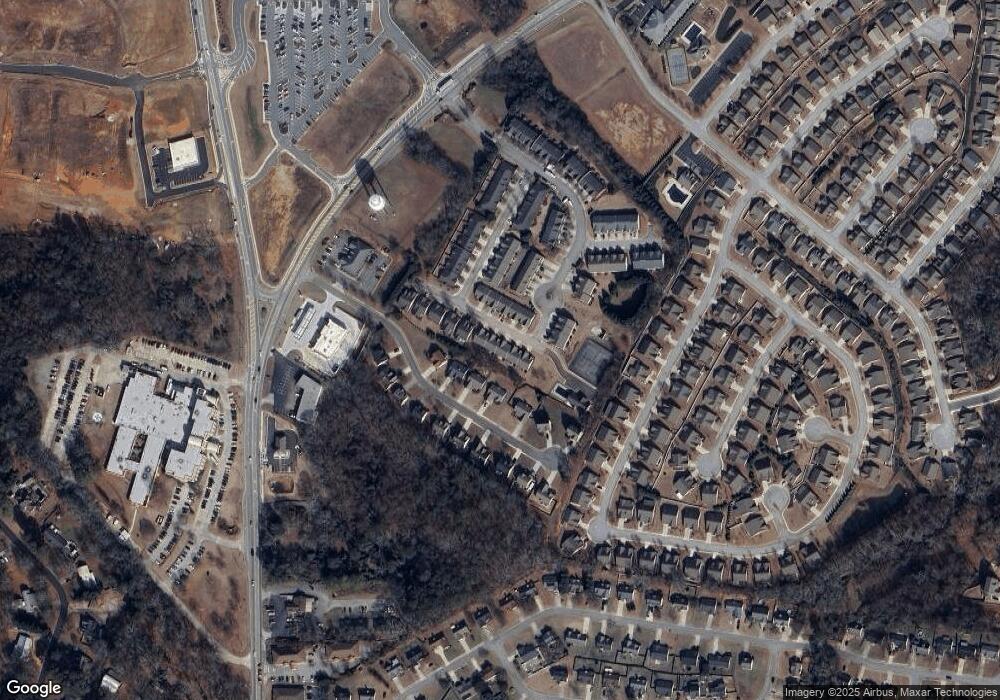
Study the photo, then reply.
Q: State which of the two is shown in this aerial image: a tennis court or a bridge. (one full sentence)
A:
Of the two, only a tennis court appears.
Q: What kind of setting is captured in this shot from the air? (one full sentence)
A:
It's a residential area.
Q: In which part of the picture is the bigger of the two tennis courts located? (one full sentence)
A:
The bigger of the two tennis courts sits in the center section of the image.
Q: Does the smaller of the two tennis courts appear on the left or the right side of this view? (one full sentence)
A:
It is on the right.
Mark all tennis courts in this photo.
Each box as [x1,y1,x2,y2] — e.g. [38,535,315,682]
[665,48,689,85]
[568,339,613,384]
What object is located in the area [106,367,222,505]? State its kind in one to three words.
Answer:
building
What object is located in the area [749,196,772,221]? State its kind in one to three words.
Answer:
house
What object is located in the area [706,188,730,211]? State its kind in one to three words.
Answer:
house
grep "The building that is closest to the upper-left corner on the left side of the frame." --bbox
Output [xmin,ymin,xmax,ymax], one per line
[170,138,200,173]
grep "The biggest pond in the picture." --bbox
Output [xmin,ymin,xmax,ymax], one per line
[838,485,909,546]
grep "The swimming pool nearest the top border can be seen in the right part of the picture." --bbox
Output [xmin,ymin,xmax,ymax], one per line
[681,21,705,45]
